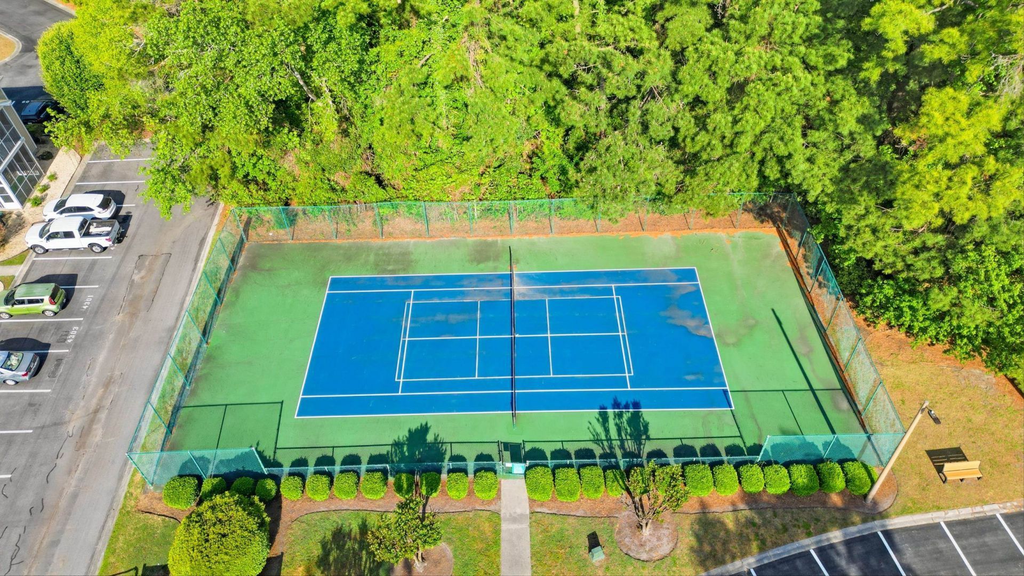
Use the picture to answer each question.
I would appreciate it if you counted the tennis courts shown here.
1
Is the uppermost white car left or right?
left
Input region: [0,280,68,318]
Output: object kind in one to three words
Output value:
car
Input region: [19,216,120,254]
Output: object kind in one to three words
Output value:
truck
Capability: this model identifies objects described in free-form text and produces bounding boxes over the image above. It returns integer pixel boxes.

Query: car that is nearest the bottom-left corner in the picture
[0,350,40,386]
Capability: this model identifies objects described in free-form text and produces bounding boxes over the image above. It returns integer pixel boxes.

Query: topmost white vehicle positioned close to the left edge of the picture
[37,194,112,223]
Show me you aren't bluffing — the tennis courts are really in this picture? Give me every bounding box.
[152,232,881,485]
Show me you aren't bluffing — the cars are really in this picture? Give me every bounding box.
[37,194,112,223]
[0,350,40,386]
[0,280,68,318]
[19,97,58,130]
